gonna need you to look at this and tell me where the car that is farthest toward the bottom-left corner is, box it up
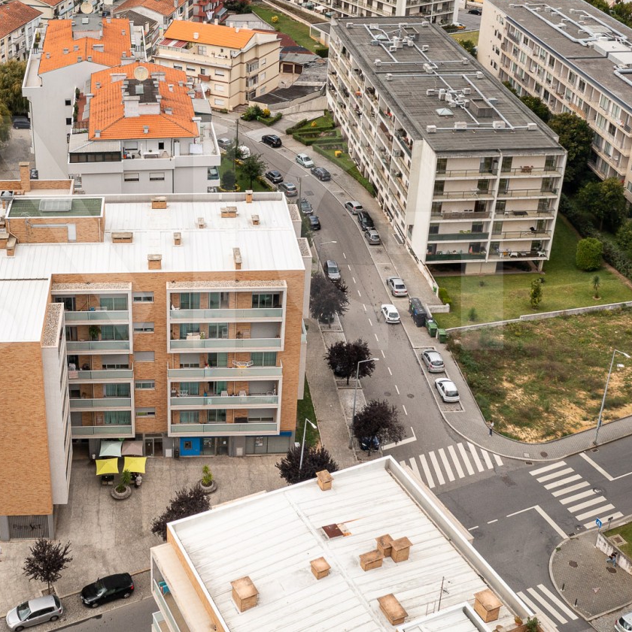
[2,594,67,632]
